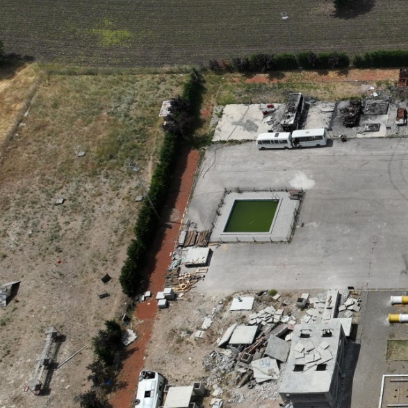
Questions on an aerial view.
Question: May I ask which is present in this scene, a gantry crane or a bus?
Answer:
bus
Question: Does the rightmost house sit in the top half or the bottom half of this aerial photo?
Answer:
bottom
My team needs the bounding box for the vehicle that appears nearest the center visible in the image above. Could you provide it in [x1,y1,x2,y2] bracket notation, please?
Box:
[255,130,292,150]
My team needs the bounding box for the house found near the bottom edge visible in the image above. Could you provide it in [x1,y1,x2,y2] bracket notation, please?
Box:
[280,324,345,408]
